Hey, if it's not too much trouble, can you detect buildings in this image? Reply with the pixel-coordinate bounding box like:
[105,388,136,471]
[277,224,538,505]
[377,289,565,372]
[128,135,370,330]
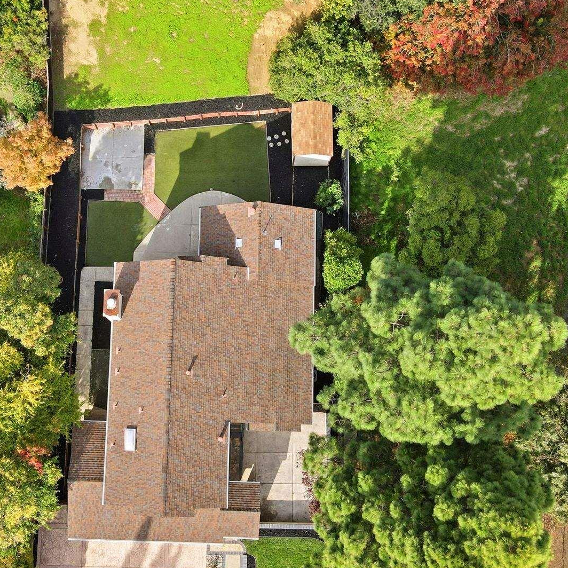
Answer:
[67,202,318,545]
[288,100,333,168]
